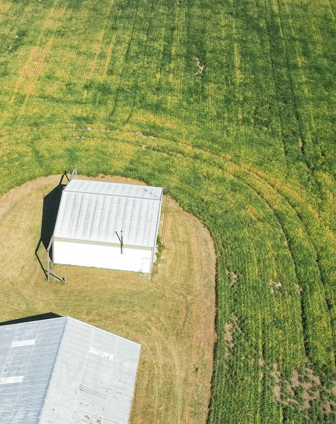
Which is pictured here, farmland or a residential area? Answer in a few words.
farmland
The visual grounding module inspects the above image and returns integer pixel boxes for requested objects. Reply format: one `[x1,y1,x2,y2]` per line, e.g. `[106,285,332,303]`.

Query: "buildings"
[52,179,165,274]
[0,317,140,424]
